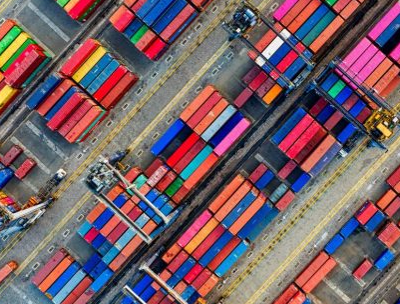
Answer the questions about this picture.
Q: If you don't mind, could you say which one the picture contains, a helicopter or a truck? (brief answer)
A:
truck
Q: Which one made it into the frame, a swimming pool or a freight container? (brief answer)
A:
freight container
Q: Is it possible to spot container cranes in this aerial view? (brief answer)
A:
Yes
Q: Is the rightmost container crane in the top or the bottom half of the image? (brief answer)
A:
top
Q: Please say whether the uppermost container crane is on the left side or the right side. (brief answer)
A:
right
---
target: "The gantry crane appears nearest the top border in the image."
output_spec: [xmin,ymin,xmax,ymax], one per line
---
[221,0,320,94]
